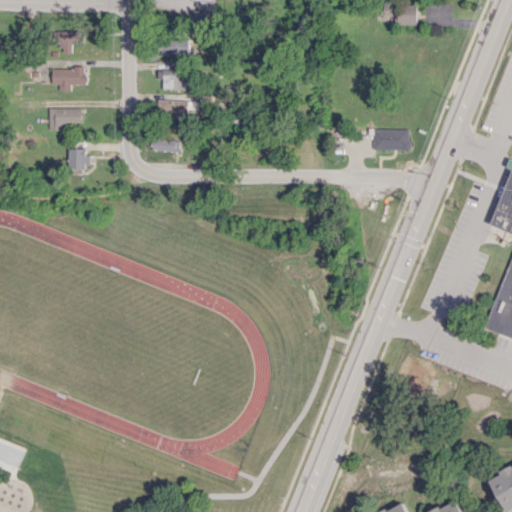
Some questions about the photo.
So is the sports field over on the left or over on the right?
left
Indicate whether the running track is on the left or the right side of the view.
left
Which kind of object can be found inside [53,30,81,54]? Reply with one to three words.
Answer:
house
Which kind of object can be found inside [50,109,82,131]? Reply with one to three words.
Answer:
house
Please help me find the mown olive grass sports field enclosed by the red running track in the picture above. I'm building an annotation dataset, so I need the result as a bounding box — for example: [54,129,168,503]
[0,227,254,438]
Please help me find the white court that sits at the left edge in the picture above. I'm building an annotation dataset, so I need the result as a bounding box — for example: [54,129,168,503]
[0,438,27,478]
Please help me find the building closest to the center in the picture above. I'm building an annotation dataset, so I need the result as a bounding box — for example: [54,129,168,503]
[152,138,182,153]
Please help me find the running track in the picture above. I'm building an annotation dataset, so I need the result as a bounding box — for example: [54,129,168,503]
[0,210,271,480]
